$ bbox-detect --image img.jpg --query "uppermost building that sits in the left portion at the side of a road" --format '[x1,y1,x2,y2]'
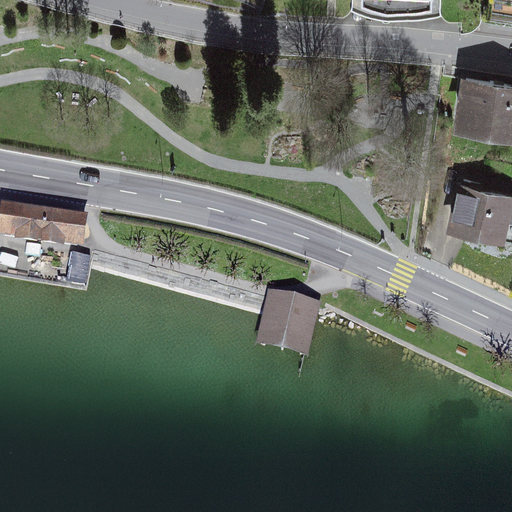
[0,198,88,247]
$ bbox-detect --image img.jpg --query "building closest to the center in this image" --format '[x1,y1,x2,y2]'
[255,288,321,357]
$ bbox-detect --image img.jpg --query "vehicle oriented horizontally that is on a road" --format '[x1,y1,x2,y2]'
[78,169,100,181]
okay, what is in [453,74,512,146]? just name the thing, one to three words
house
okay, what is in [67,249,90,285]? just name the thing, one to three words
shed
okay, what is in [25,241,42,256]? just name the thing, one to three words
umbrella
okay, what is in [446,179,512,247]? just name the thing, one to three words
house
